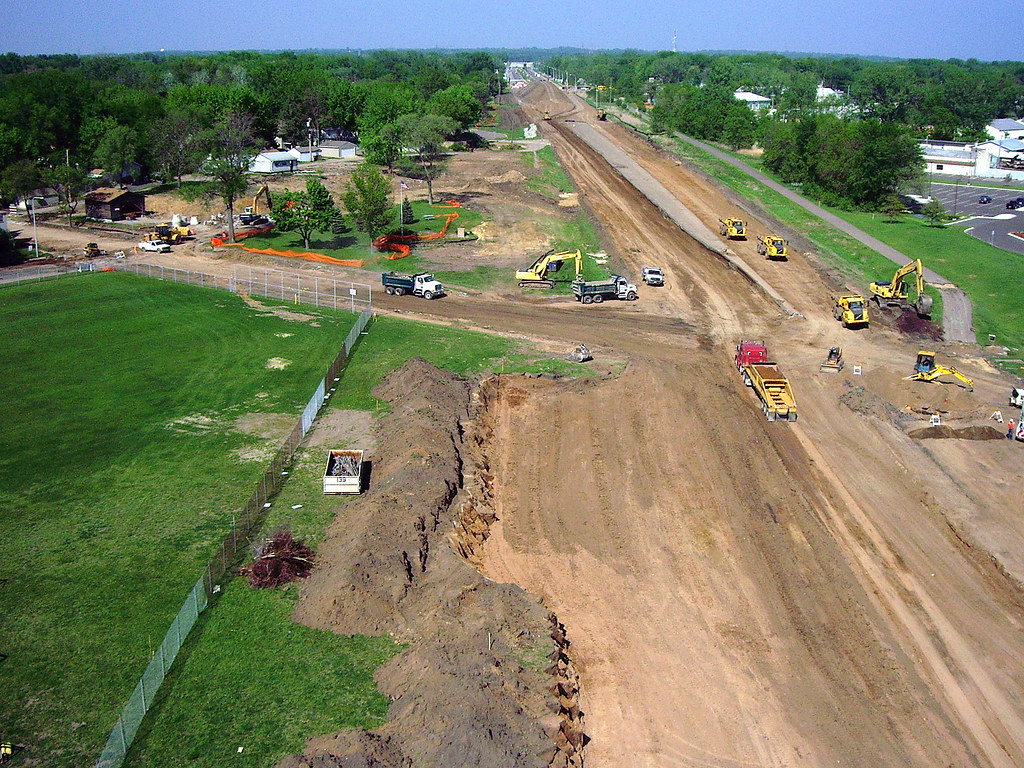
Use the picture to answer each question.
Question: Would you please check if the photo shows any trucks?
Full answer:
Yes, the photo shows a truck.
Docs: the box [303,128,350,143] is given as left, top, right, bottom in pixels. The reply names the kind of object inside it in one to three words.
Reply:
house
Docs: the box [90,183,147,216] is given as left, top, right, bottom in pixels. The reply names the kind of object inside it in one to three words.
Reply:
shed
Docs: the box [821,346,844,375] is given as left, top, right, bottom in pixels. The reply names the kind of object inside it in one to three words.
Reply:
work vehicle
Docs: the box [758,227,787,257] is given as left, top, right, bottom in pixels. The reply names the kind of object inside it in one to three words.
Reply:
truck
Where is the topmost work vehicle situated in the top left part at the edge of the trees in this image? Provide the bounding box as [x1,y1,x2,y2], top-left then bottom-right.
[238,177,282,225]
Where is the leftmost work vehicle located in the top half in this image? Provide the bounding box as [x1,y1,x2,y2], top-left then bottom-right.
[77,238,110,257]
